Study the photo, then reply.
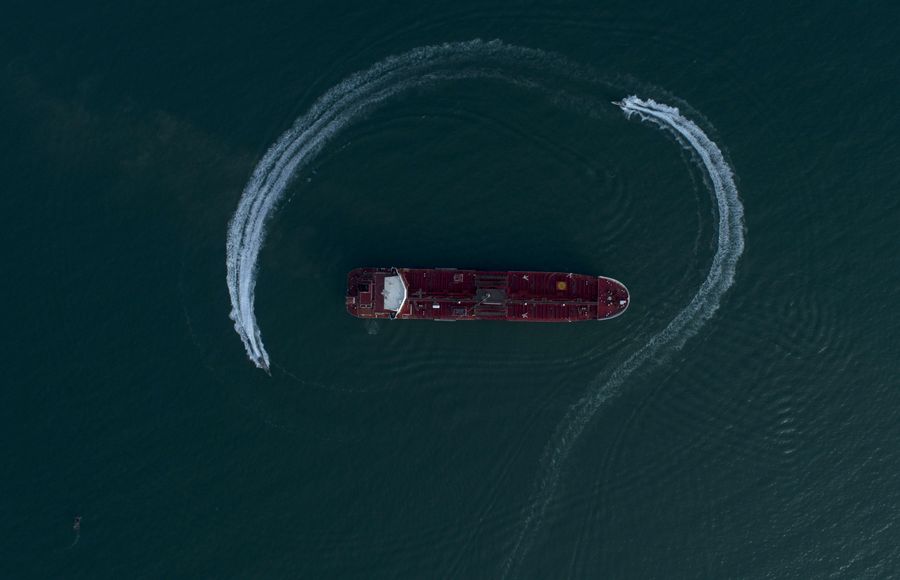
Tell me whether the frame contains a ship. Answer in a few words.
Yes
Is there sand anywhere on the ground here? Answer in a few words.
No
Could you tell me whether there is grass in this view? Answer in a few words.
No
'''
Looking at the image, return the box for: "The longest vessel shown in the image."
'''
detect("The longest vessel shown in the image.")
[346,267,629,322]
